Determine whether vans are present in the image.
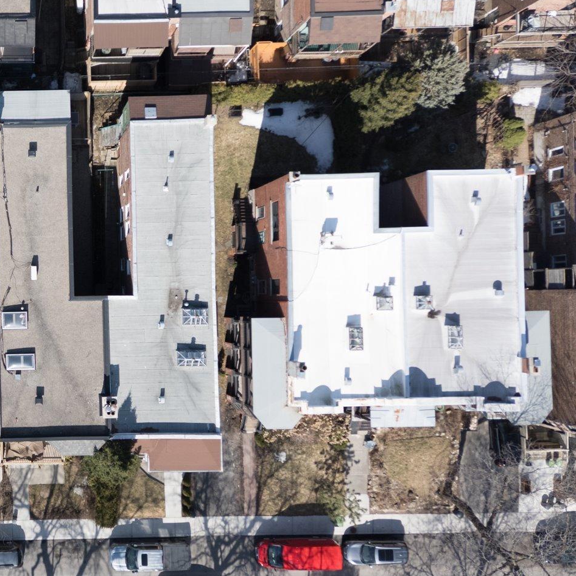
Yes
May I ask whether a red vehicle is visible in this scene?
Yes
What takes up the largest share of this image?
buildings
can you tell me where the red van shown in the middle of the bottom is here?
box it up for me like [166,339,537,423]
[254,535,346,571]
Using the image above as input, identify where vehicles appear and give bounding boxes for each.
[486,417,520,478]
[254,535,346,571]
[0,541,23,568]
[109,538,188,573]
[341,536,406,568]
